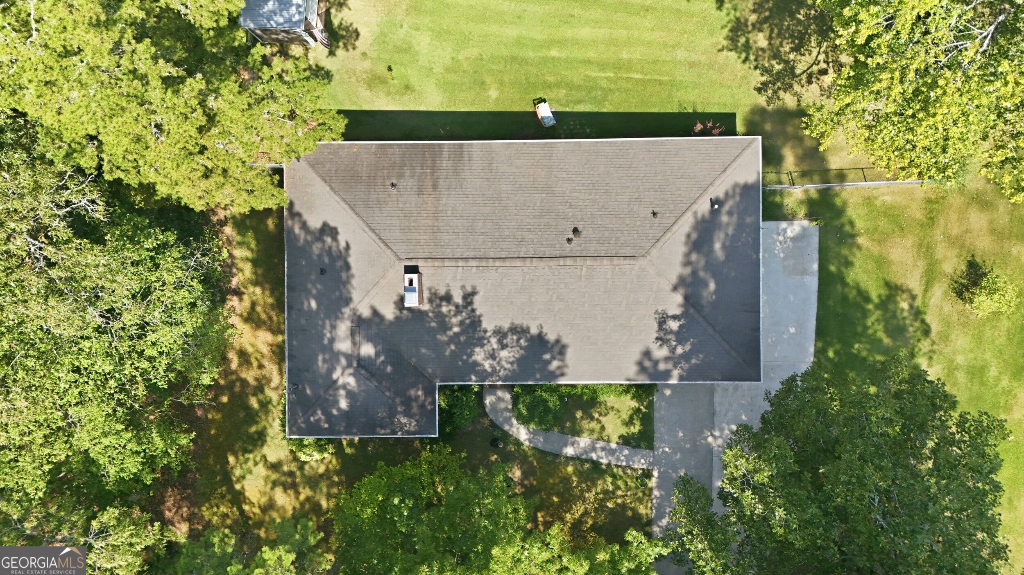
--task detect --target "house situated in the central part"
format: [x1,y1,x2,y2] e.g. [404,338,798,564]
[282,134,764,440]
